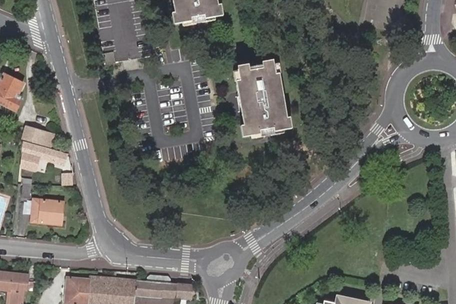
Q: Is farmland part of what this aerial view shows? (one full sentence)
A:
No, there's no farmland in this view.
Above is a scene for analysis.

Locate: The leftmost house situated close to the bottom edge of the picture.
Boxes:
[0,270,32,304]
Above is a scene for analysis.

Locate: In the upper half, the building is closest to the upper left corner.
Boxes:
[0,72,26,112]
